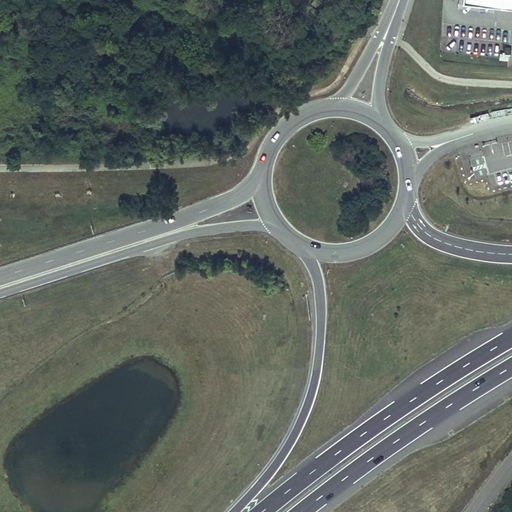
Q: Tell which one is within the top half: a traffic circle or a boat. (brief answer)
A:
traffic circle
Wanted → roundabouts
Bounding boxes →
[199,50,428,264]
